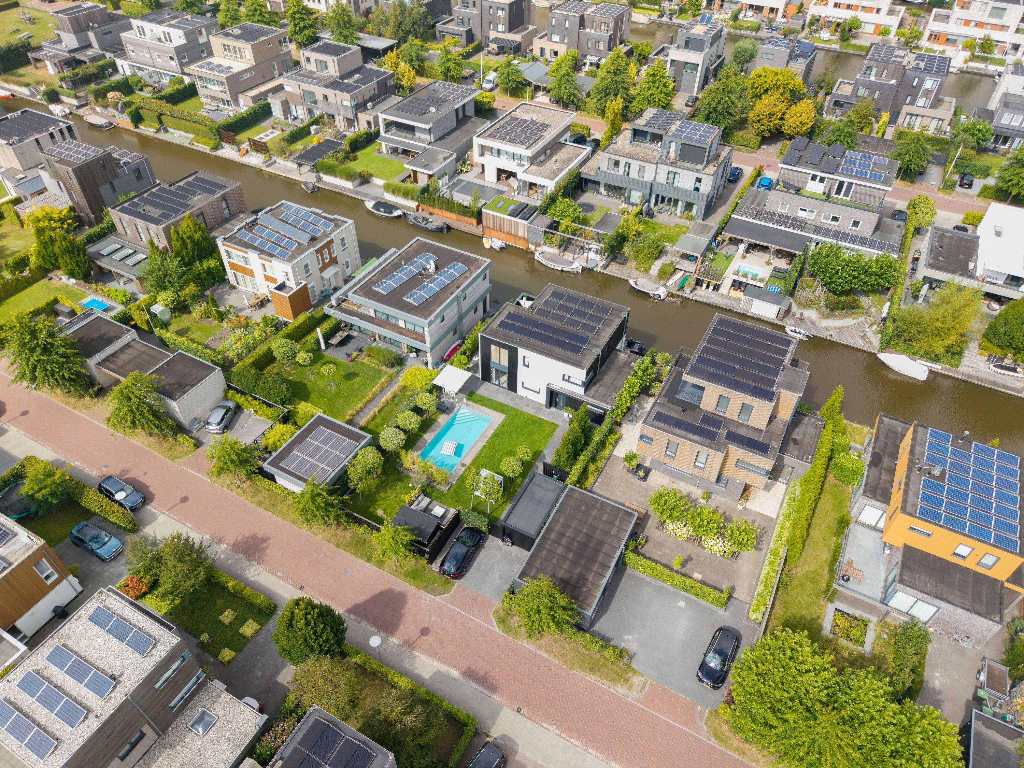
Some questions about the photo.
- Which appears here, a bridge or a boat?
boat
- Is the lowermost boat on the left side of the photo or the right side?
right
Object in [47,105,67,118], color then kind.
white boat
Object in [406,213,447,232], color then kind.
gray boat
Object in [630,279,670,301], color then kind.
white boat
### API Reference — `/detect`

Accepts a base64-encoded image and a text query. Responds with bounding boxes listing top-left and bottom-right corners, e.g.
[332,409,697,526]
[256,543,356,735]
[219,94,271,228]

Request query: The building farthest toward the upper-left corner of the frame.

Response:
[28,2,131,75]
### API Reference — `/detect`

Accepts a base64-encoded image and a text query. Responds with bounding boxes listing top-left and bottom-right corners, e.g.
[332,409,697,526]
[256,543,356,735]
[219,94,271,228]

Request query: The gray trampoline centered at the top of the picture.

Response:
[574,201,598,214]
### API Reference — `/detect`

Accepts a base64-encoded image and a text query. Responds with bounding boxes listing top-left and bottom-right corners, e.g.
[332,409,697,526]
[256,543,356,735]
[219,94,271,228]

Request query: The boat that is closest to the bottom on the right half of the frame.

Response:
[877,351,931,382]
